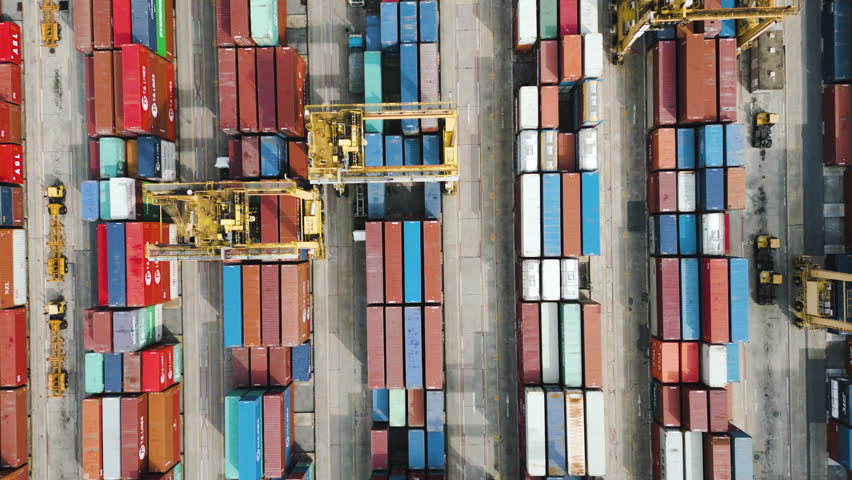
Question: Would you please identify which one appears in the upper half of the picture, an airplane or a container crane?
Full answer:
The one visible in the upper half of the picture is a container crane.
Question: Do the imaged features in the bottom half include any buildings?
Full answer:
No, looking in the bottom half, there is no building.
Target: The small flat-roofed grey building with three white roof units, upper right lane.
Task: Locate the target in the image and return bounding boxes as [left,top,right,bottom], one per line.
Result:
[750,28,785,92]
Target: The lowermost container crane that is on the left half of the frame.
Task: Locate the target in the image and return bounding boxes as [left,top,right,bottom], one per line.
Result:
[141,180,323,265]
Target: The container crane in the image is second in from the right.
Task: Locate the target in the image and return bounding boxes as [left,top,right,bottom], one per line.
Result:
[607,0,806,65]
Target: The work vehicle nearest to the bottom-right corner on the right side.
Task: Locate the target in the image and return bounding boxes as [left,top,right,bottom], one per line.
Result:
[755,270,783,306]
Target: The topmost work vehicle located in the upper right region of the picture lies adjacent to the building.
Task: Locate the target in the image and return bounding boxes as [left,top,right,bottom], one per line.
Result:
[751,111,779,149]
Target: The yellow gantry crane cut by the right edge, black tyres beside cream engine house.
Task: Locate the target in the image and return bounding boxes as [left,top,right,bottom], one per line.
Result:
[795,259,852,332]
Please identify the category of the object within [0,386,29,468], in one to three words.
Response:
shipping container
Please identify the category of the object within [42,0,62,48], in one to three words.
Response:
vehicle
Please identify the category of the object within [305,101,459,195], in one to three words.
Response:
container crane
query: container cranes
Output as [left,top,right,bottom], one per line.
[607,0,806,65]
[795,259,852,332]
[305,101,459,195]
[141,180,323,265]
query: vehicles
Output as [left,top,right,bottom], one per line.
[214,156,235,187]
[47,185,70,282]
[42,0,62,48]
[755,270,783,306]
[345,33,365,94]
[47,300,71,398]
[350,183,367,241]
[346,0,365,11]
[751,111,779,149]
[754,234,781,270]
